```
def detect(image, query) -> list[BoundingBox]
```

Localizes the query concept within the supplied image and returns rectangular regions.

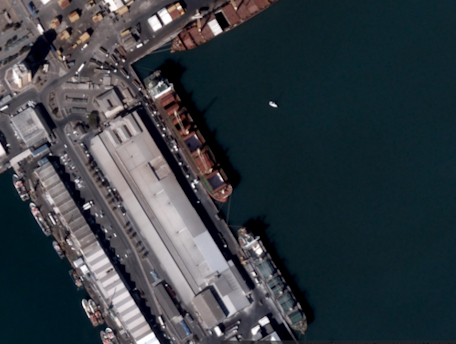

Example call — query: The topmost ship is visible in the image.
[170,0,283,55]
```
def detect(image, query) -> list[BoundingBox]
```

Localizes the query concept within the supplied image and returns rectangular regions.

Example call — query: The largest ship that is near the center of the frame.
[144,71,229,203]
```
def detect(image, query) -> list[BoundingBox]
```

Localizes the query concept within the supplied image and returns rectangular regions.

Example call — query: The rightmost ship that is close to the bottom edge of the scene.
[236,226,306,334]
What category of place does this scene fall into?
port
